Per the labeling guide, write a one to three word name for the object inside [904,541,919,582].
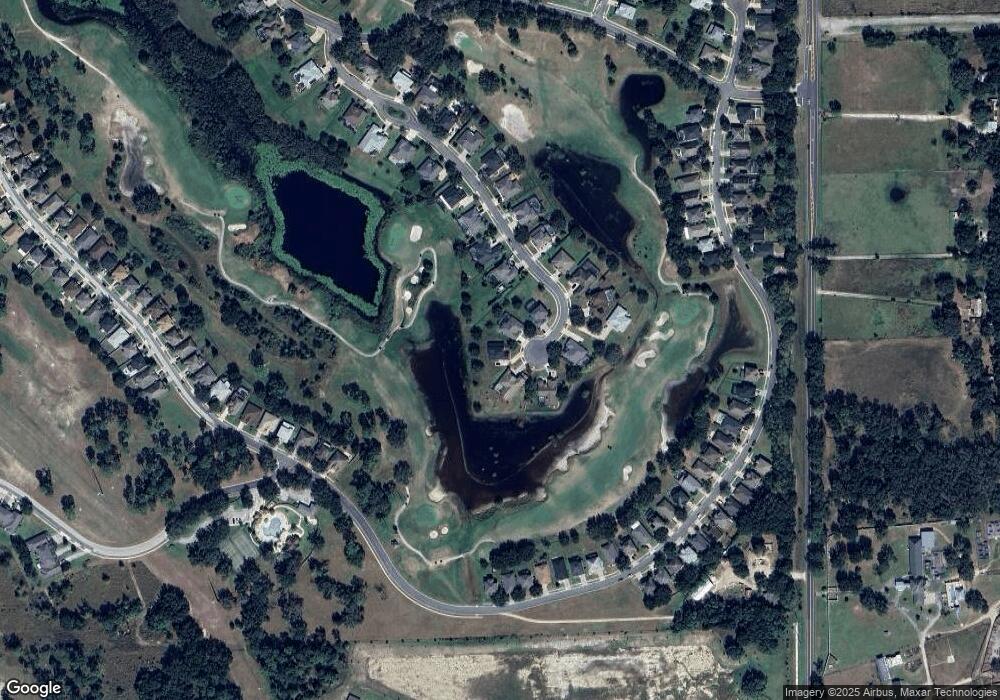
barn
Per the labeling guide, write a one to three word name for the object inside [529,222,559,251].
house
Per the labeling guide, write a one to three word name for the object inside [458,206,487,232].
house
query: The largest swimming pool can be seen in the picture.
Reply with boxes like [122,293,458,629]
[256,512,290,553]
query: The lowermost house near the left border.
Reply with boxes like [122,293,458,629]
[25,535,60,565]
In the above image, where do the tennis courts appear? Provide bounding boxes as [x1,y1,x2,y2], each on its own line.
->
[215,528,262,574]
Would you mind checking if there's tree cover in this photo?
Yes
